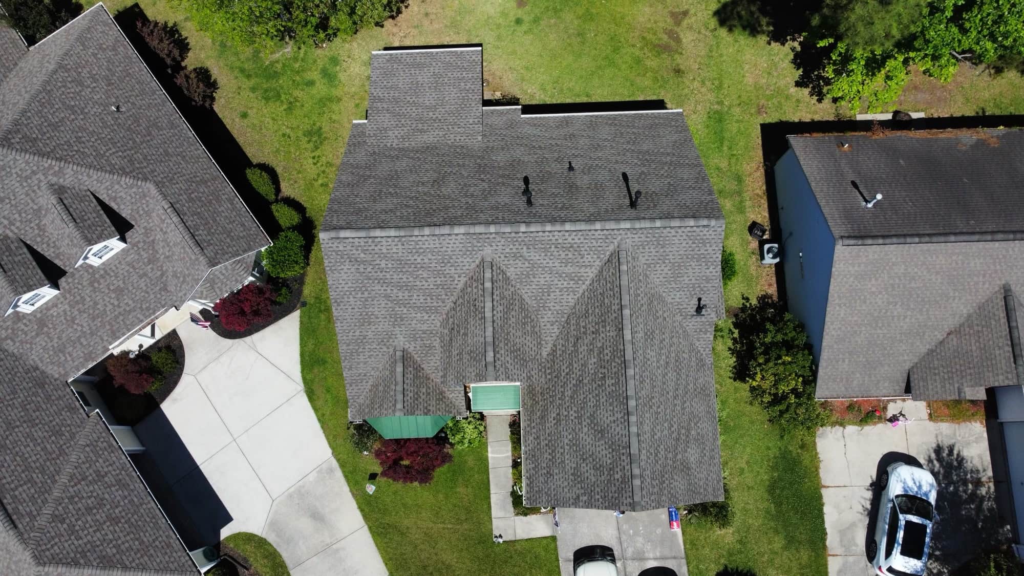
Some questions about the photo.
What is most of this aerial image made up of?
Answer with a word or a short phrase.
buildings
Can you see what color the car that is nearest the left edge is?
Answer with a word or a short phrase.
white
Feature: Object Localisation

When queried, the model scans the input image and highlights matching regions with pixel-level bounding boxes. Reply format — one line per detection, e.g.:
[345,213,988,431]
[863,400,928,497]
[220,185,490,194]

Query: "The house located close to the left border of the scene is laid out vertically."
[0,1,274,576]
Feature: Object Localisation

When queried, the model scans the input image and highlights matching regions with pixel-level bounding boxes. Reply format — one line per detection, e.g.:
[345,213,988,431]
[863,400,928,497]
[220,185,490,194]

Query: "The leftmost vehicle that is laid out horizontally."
[571,555,623,576]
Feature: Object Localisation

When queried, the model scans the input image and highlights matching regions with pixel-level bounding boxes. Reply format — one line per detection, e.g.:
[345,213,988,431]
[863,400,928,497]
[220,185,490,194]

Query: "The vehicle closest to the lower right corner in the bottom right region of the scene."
[867,457,945,576]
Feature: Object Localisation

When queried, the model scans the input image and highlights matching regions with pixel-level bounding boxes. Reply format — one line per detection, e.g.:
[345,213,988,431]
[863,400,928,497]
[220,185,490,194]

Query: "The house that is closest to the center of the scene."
[320,46,724,512]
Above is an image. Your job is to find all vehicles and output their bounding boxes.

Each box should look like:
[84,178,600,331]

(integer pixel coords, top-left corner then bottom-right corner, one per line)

[867,457,945,576]
[571,555,623,576]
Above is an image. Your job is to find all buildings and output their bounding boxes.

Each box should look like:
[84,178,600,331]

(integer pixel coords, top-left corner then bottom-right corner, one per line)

[776,126,1024,544]
[320,46,724,512]
[0,1,274,576]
